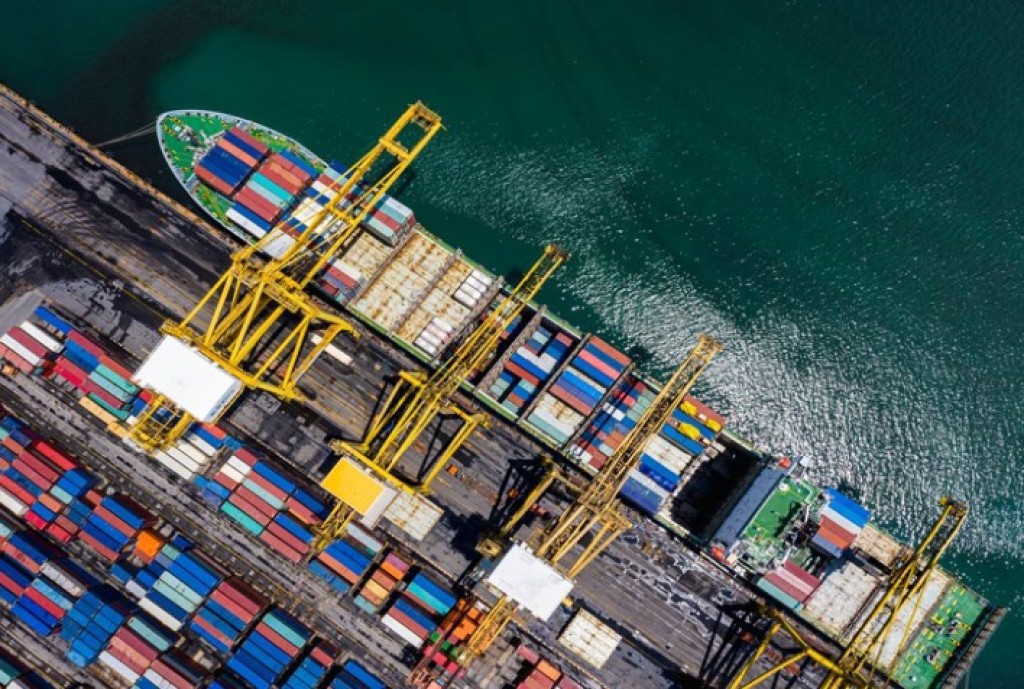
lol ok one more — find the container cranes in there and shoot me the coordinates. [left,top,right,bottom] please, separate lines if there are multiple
[459,332,724,668]
[133,102,445,450]
[310,244,565,550]
[397,563,490,689]
[696,500,974,689]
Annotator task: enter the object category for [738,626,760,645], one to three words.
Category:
vehicle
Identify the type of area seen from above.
port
